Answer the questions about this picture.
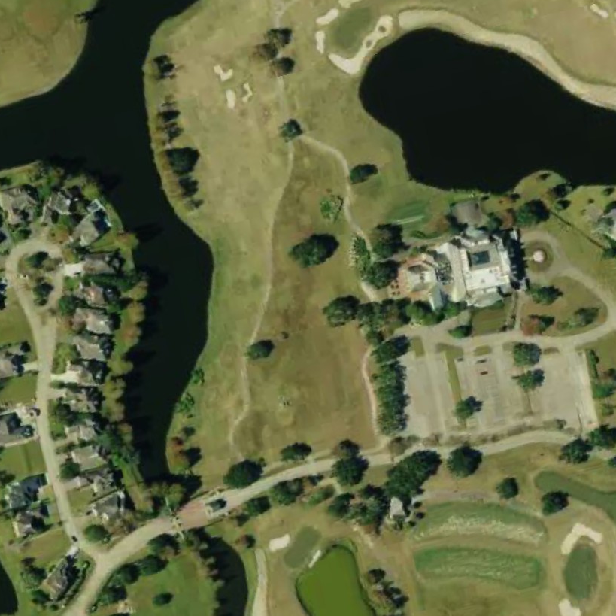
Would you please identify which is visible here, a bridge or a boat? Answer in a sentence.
Looking from above, you can make out a bridge.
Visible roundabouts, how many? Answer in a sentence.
I count 2 roundabouts.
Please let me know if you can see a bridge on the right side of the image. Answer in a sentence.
No, I can find no bridge on the right side of the image.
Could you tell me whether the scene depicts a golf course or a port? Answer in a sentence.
This looks like a golf course.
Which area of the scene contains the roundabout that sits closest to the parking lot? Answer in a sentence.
The roundabout that sits closest to the parking lot is in the right part of the image.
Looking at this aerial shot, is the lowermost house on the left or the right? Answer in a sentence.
You can find the lowermost house on the left side of the picture.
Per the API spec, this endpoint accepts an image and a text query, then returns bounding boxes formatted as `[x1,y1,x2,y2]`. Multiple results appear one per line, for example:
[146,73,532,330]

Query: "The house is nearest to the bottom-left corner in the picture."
[38,558,81,602]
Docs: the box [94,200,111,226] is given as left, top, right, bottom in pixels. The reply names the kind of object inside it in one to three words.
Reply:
swimming pool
